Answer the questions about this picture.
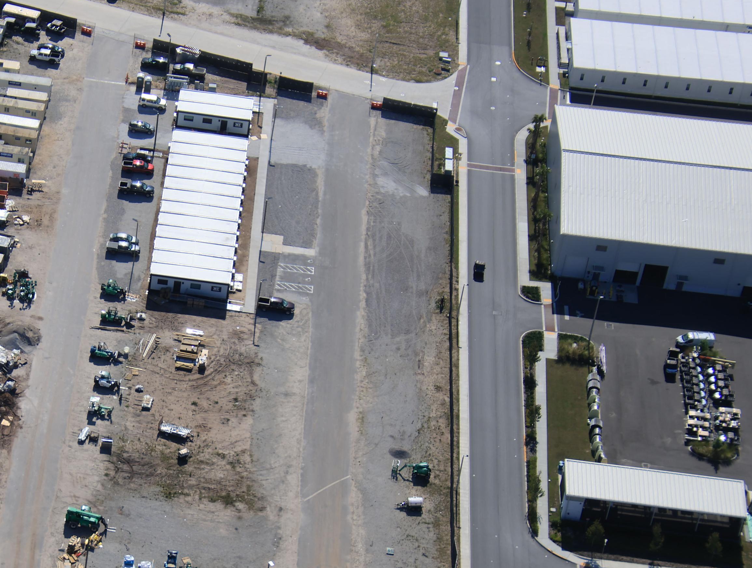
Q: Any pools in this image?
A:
No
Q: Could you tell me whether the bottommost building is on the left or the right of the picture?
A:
right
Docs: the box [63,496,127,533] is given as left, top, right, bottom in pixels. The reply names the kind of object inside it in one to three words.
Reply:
work vehicle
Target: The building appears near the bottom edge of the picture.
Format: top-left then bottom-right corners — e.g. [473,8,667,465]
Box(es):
[563,454,748,542]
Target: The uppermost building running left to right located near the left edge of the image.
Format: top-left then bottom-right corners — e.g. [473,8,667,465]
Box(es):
[0,71,52,99]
